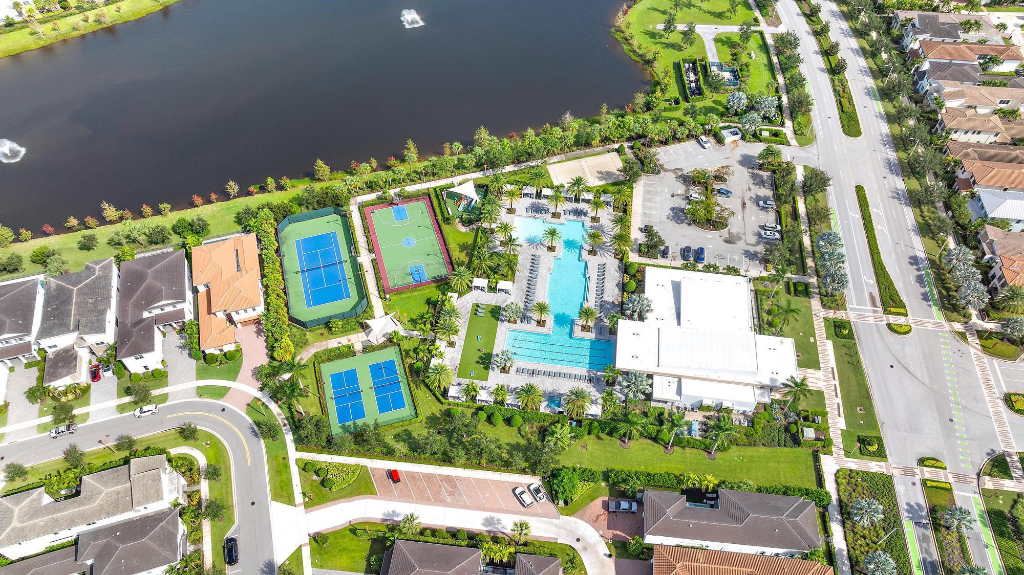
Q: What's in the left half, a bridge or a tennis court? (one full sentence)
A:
The one visible in the left half is a tennis court.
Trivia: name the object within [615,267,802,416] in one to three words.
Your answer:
building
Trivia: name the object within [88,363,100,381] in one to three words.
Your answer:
vehicle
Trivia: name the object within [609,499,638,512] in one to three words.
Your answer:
vehicle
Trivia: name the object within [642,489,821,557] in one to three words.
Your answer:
house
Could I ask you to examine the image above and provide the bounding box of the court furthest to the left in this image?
[280,214,366,329]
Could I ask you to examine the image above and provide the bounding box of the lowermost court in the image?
[320,348,416,438]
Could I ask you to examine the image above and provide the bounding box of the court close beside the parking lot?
[547,152,629,186]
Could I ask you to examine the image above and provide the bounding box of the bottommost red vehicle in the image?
[389,464,402,487]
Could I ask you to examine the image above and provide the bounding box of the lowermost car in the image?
[223,537,236,564]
